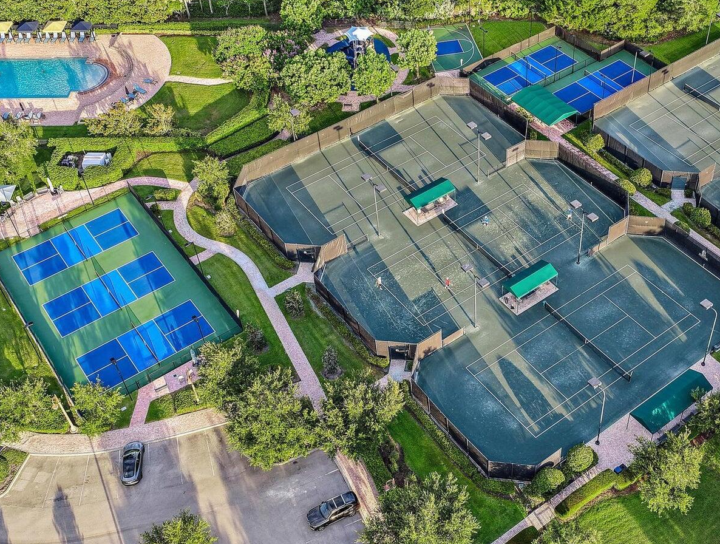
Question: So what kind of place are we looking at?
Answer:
sports ground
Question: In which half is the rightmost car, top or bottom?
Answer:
bottom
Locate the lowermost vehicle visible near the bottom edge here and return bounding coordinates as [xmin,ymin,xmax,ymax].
[309,493,364,532]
